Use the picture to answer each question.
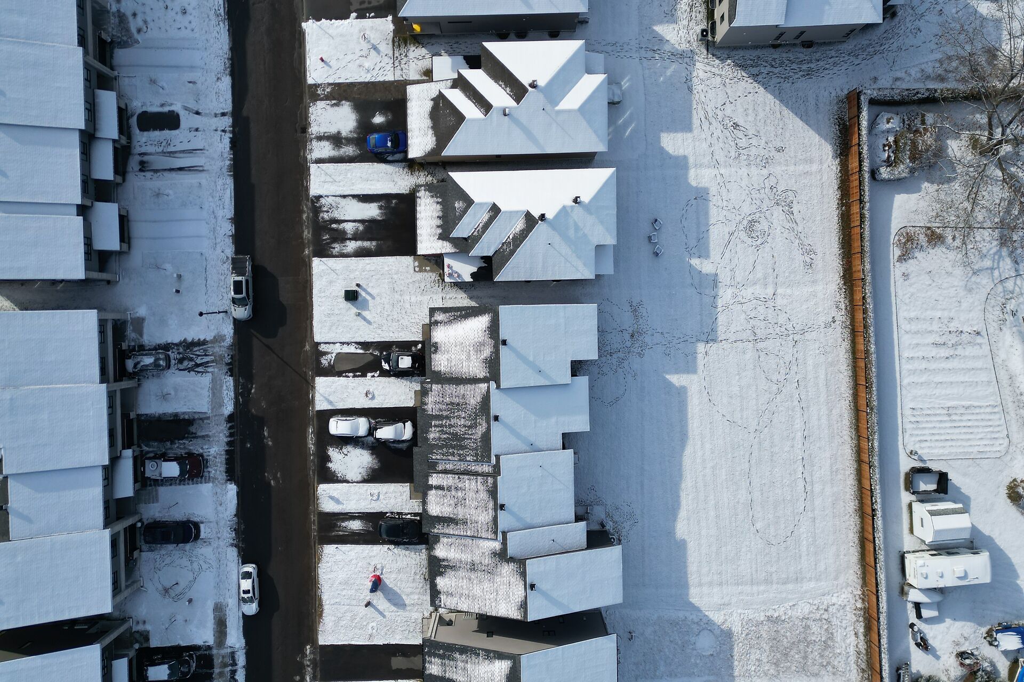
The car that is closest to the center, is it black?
Yes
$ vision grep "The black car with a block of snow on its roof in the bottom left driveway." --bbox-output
[143,652,198,682]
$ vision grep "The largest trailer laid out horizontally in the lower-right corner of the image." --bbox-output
[902,553,998,588]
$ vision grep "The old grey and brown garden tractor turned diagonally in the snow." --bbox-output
[907,621,931,649]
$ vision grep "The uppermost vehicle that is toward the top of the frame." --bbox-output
[364,130,408,155]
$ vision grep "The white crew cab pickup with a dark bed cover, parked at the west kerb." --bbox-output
[228,256,256,320]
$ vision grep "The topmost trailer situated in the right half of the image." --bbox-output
[905,465,950,498]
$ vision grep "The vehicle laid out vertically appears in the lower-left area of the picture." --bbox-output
[238,562,263,615]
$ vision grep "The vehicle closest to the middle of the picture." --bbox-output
[381,351,425,375]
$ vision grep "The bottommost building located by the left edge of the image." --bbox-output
[0,617,140,682]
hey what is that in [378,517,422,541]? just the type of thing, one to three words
car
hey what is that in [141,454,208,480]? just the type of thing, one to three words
truck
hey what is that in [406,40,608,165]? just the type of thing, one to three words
house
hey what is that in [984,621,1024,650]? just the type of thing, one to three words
boat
